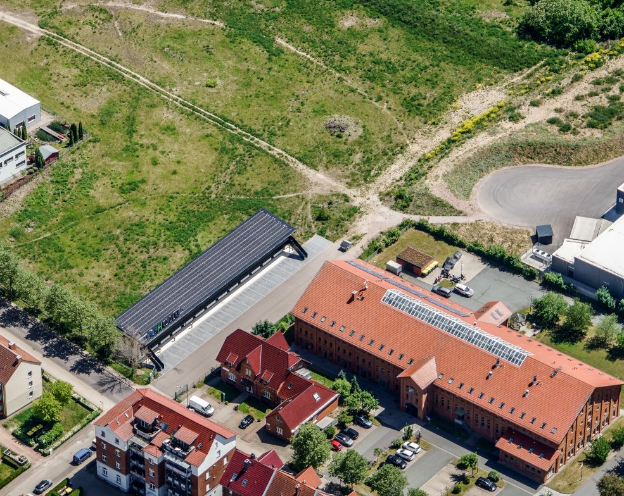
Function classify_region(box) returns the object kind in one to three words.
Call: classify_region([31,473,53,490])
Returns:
car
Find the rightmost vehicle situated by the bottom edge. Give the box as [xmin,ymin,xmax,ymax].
[473,470,499,487]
